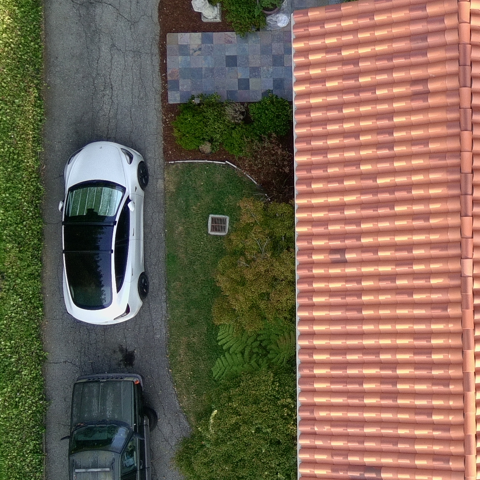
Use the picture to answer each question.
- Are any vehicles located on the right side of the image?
No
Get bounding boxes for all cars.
[59,372,166,480]
[58,143,156,326]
